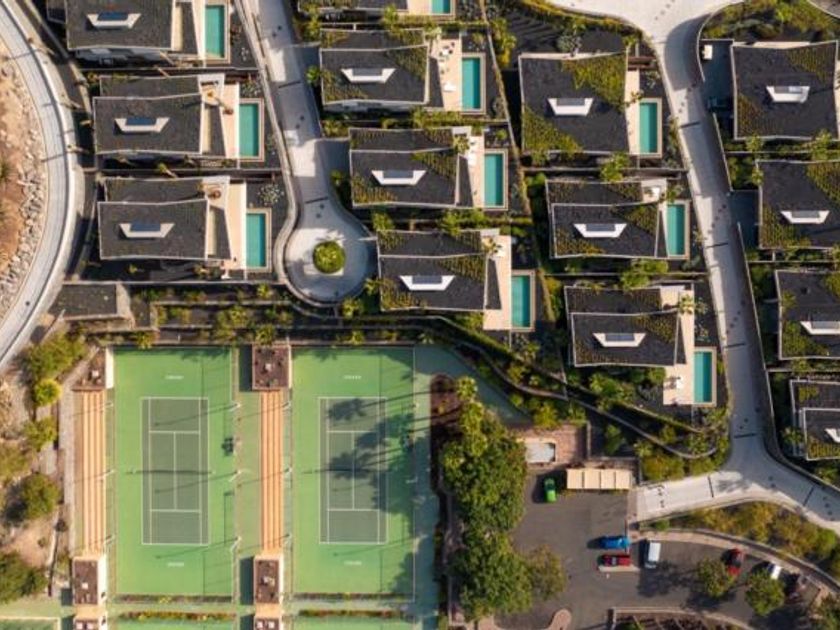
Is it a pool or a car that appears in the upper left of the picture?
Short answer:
pool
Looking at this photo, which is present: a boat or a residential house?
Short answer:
residential house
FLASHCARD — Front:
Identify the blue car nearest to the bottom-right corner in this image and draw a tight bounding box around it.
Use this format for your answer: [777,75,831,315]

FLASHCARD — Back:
[600,535,628,550]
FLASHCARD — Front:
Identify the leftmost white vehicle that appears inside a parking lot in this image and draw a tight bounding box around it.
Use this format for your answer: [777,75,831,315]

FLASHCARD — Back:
[643,538,660,568]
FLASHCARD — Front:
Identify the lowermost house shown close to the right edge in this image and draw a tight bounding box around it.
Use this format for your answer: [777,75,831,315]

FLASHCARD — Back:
[774,378,840,461]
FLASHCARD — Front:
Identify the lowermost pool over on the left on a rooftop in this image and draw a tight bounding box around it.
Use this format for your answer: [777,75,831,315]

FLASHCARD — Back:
[246,208,272,272]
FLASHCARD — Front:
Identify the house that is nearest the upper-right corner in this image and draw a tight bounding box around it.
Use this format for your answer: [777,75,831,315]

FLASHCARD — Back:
[722,38,840,144]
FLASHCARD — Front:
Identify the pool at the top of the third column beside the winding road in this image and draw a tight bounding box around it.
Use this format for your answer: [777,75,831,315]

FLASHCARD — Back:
[639,98,662,158]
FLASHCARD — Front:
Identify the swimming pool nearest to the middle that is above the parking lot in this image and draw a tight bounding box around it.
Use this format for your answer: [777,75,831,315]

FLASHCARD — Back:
[509,270,536,331]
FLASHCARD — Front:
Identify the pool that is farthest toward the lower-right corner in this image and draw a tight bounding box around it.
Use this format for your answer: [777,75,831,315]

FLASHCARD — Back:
[692,346,717,407]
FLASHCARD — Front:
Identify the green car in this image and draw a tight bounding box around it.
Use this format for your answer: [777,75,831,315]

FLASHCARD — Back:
[543,478,557,502]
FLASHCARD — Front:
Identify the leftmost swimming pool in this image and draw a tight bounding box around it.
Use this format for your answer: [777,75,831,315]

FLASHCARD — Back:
[205,0,230,62]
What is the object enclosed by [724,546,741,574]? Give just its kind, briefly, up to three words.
car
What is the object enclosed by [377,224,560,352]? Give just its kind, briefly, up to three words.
house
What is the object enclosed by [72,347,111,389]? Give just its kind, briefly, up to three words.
building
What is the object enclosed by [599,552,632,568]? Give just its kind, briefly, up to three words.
vehicle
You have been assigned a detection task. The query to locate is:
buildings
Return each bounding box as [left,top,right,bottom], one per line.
[98,172,292,279]
[74,610,104,630]
[253,555,282,603]
[745,159,840,249]
[48,0,257,67]
[254,613,281,630]
[517,53,682,168]
[72,347,111,389]
[563,280,729,426]
[253,346,290,389]
[544,173,707,270]
[774,378,840,461]
[73,556,104,604]
[320,27,505,119]
[349,124,528,219]
[52,285,137,318]
[763,271,840,360]
[722,38,840,144]
[377,224,560,352]
[93,75,282,167]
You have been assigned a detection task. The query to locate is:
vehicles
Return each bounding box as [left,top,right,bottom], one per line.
[543,478,557,502]
[763,557,781,585]
[599,552,632,568]
[643,538,660,568]
[781,571,805,599]
[699,44,712,63]
[600,535,628,550]
[724,546,741,574]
